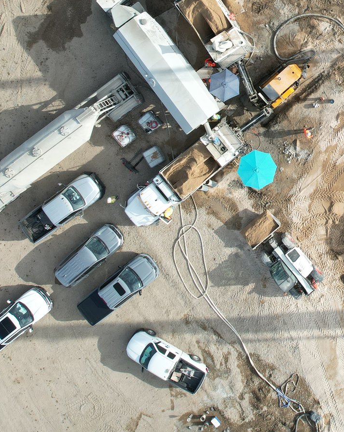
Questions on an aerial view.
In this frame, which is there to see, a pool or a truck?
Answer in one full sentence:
This aerial view contains a truck.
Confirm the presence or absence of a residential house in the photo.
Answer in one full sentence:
No, I can't see a single residential house in this photo.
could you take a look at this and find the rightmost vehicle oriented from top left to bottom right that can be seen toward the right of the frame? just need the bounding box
[242,210,323,300]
